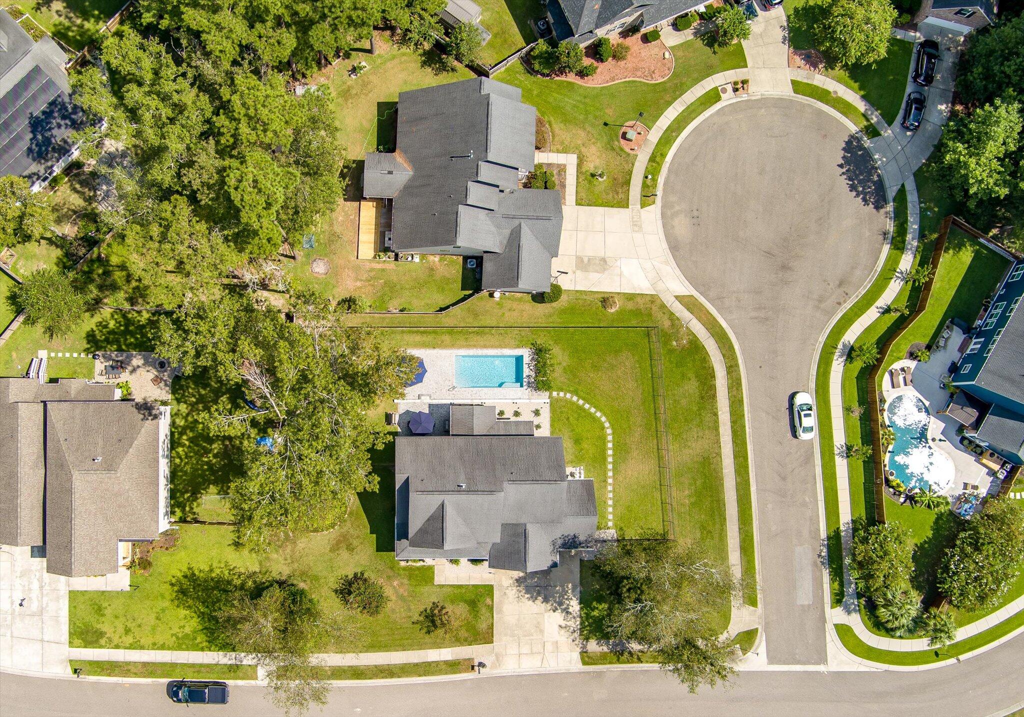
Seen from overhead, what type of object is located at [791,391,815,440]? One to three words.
car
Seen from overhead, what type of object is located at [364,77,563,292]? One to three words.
house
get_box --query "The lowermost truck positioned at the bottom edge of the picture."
[171,678,232,705]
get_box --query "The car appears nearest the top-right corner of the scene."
[907,38,938,89]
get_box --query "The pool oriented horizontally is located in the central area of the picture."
[453,354,525,389]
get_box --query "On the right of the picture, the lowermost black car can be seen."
[898,91,927,133]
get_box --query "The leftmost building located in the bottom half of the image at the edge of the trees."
[0,378,171,577]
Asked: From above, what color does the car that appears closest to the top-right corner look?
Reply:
black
